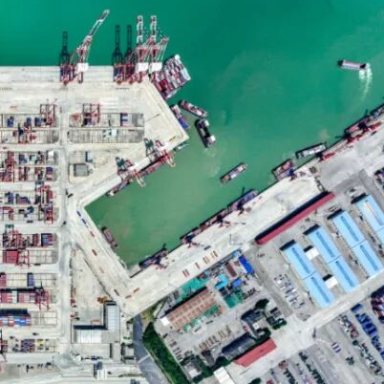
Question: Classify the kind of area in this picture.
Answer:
port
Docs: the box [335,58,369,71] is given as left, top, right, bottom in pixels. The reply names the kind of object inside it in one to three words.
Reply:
ship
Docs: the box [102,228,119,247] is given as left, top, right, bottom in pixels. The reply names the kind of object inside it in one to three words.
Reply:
ship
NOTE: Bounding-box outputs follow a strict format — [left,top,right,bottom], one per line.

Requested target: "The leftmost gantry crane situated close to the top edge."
[70,7,104,87]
